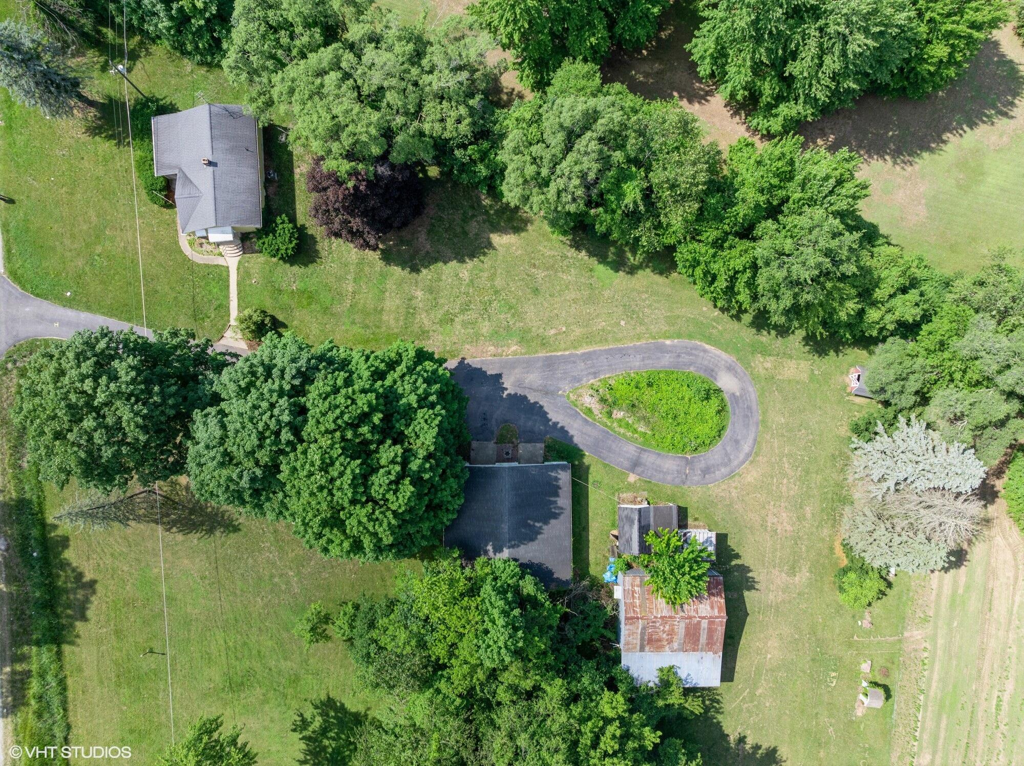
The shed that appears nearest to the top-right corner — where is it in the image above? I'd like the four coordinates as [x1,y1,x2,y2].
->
[854,365,894,399]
